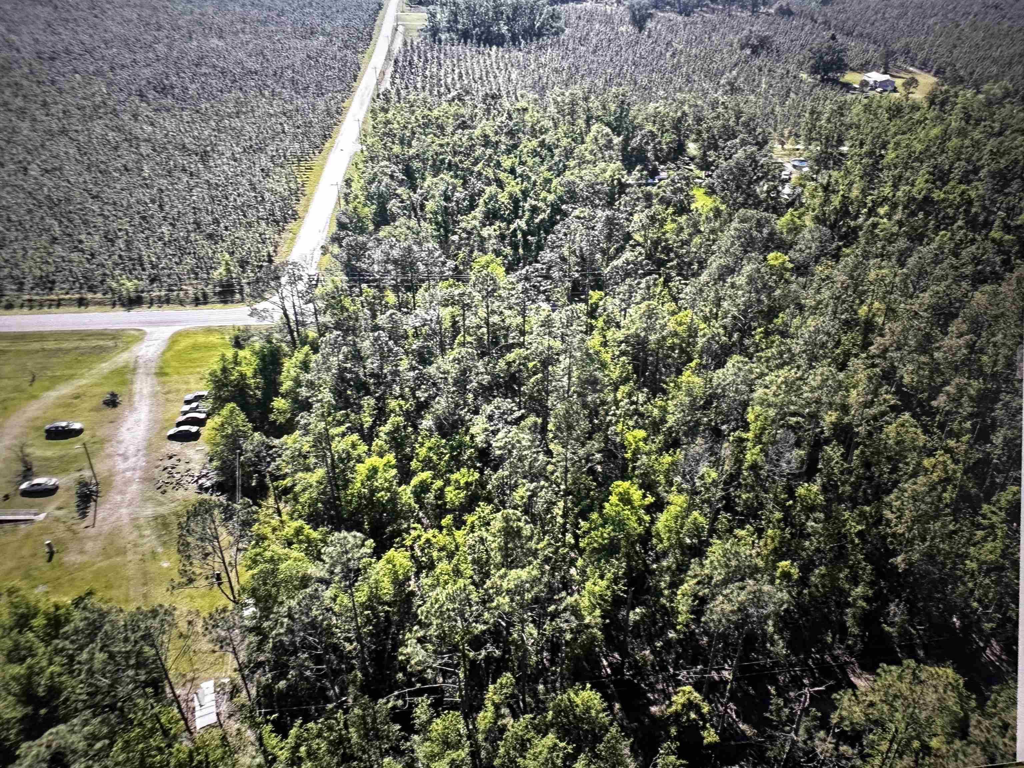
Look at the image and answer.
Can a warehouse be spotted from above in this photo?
No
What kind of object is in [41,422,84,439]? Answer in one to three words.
car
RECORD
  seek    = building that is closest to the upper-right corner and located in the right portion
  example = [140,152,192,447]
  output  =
[850,74,901,91]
